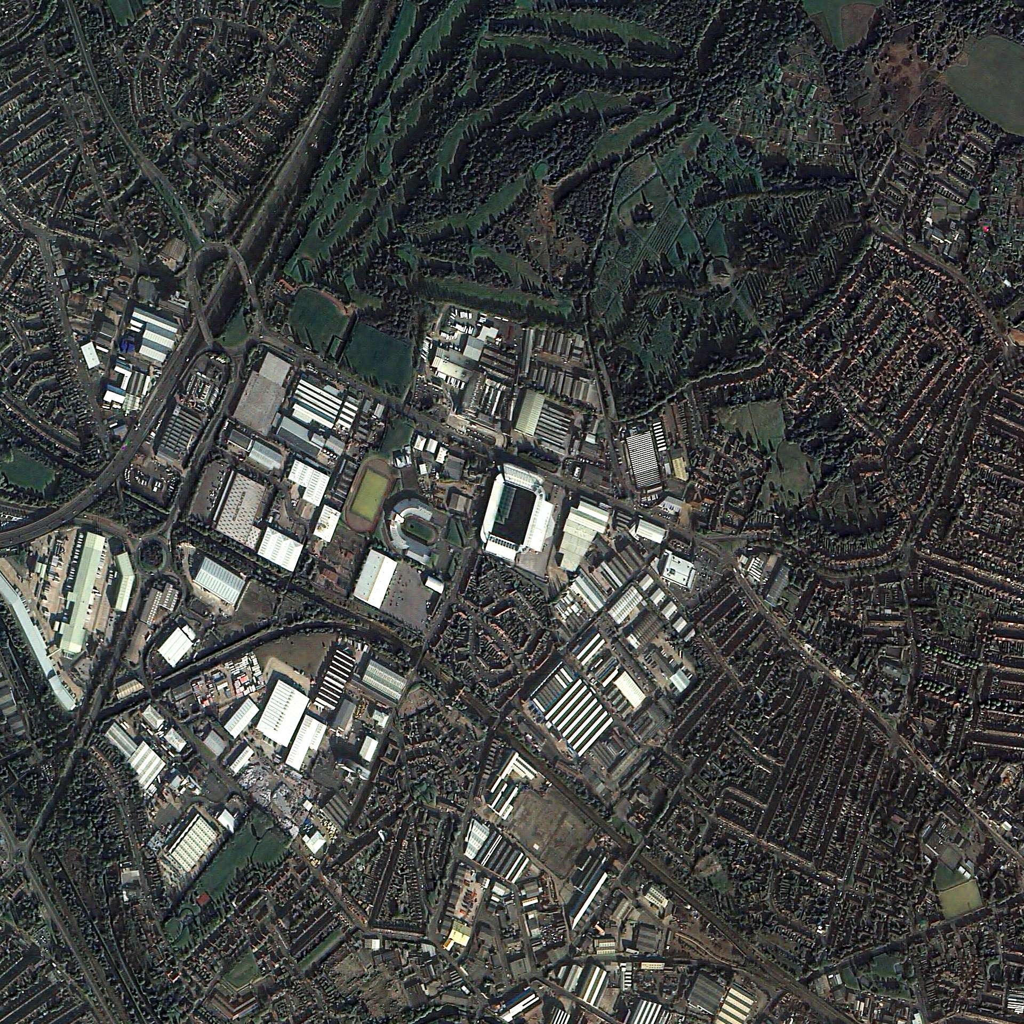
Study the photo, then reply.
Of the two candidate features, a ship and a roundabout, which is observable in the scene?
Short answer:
roundabout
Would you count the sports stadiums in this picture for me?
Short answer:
two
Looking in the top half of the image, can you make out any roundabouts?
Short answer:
Yes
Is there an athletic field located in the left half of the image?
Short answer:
Yes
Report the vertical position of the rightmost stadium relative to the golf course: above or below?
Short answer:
below it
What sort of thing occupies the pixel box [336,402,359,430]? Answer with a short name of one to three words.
building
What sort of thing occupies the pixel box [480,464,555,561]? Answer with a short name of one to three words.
stadium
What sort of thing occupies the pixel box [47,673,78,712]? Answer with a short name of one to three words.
shed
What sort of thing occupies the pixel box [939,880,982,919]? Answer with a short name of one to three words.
sports field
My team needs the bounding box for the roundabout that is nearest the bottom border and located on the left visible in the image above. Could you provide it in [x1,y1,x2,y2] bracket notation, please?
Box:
[134,536,170,573]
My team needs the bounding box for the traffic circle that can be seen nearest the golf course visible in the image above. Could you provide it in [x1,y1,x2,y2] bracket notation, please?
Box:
[189,240,263,352]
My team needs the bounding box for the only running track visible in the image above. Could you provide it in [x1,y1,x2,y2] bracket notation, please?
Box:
[343,454,394,532]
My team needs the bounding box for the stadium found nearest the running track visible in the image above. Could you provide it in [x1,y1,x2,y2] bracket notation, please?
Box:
[382,498,454,564]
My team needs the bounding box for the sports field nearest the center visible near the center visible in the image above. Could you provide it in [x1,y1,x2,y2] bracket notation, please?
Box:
[493,490,534,545]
